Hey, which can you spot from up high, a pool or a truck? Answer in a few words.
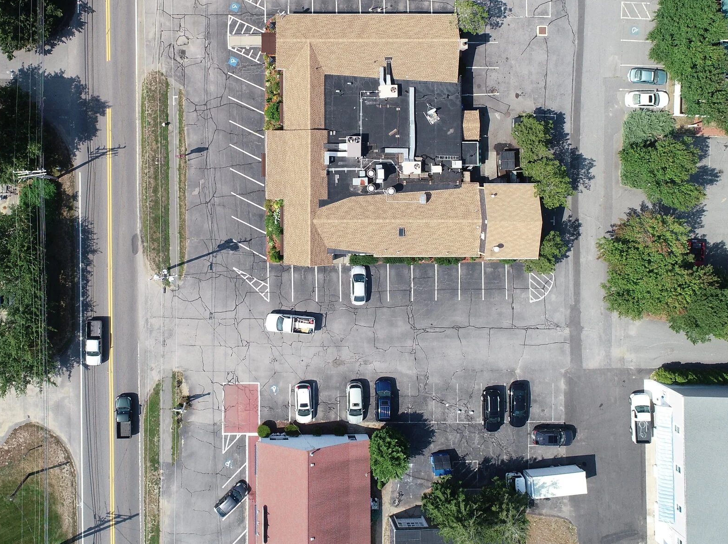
truck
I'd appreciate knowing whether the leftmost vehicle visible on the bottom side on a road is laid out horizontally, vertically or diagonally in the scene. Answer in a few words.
vertically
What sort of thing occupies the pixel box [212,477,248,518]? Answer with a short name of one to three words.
car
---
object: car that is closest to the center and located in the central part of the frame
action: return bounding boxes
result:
[349,264,368,305]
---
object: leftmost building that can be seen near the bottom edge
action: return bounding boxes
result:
[255,438,369,544]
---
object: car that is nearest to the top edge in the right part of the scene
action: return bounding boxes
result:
[625,67,667,86]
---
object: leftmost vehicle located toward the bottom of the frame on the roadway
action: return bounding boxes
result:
[84,317,104,366]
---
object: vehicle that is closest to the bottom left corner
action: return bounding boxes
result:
[113,393,133,439]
